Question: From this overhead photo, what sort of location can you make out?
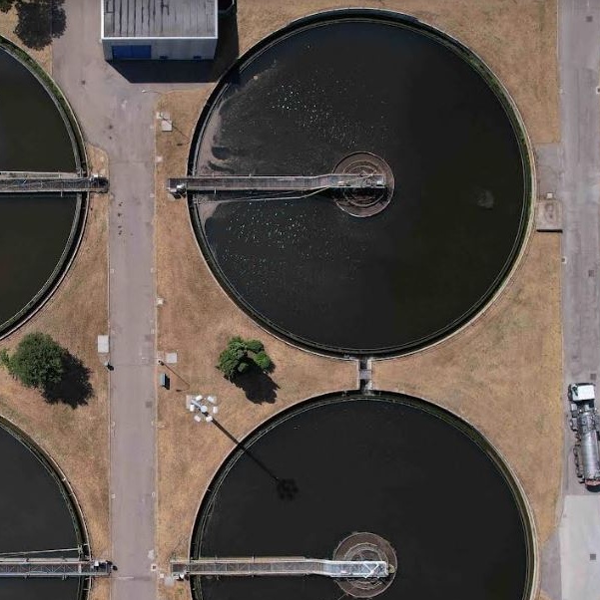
industrial area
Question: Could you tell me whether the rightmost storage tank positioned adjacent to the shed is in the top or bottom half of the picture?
top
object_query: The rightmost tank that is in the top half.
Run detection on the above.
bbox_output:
[187,9,538,360]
